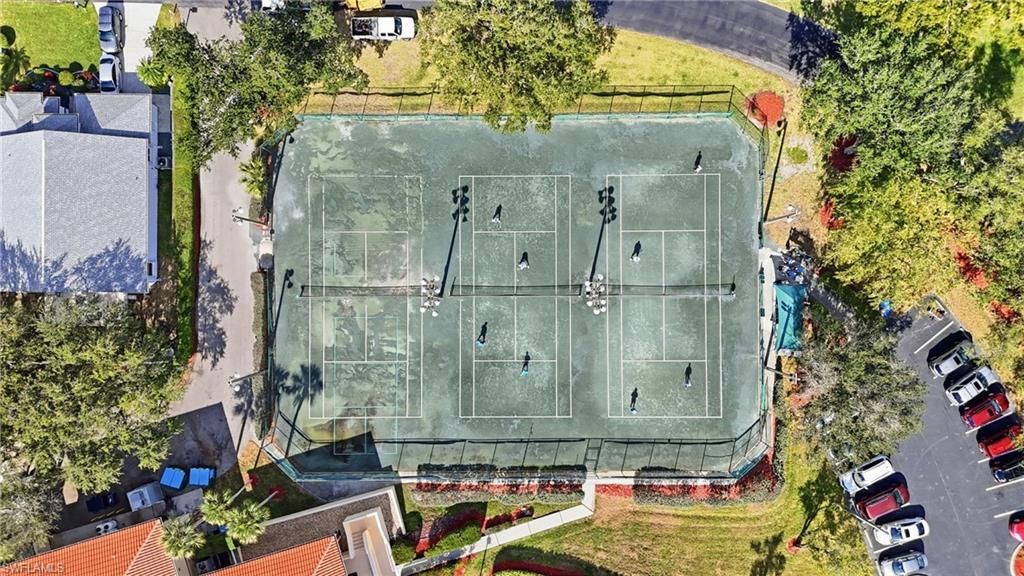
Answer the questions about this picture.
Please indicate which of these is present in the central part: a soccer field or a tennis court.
tennis court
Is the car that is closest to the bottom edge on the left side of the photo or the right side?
right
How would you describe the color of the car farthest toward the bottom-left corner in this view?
black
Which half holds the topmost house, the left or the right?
left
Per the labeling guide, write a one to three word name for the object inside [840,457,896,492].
car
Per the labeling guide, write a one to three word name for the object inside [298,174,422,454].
tennis court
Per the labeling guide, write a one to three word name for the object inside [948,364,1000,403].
car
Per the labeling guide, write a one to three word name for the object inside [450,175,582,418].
tennis court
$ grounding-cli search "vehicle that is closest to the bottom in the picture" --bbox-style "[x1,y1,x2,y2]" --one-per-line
[877,547,930,576]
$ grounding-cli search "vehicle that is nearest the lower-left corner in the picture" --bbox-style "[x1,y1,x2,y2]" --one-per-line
[77,488,125,517]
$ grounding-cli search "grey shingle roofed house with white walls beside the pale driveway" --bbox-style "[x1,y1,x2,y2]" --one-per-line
[0,92,161,292]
